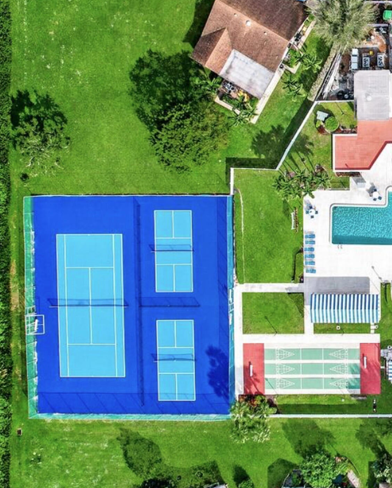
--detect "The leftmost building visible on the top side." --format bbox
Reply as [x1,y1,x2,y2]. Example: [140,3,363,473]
[190,0,309,102]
